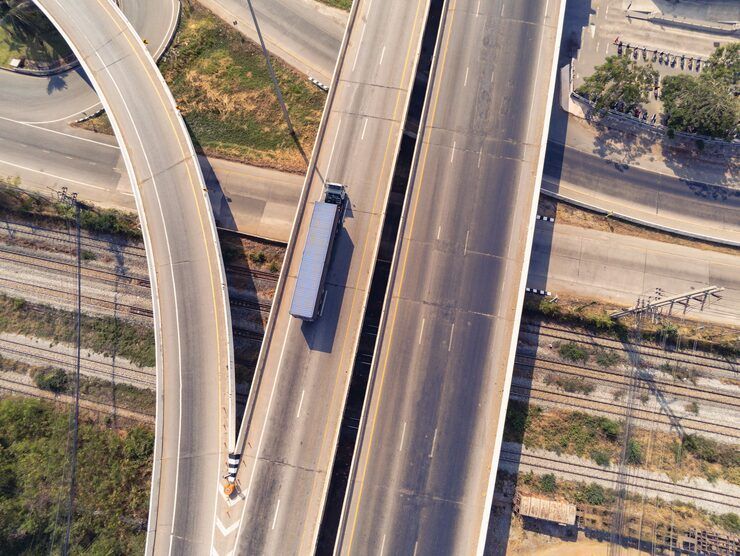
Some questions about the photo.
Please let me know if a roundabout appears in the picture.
No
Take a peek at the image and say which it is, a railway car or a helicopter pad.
railway car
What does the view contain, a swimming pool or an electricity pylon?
electricity pylon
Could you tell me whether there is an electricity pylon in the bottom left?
No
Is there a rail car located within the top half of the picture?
No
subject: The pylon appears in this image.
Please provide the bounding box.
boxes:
[610,287,730,328]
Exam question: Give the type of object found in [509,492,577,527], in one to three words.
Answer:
rail car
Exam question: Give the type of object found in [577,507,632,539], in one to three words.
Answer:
rail car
